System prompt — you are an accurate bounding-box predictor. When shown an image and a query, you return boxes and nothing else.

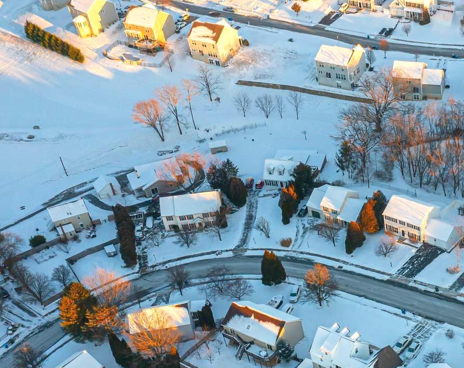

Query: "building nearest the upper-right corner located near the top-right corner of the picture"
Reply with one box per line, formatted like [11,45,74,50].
[390,0,430,21]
